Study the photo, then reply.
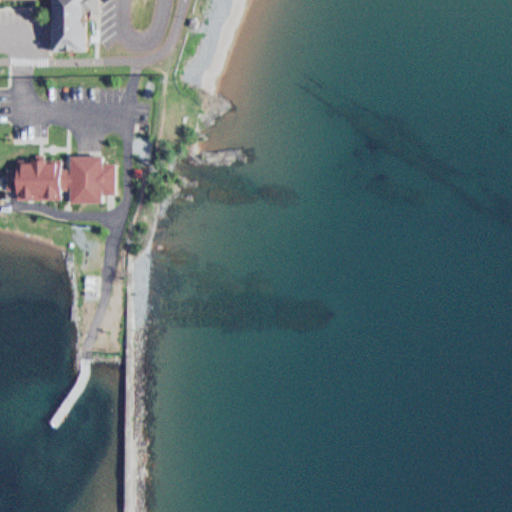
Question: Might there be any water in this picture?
Yes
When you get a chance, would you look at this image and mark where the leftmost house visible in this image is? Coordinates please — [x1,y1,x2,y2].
[11,156,62,206]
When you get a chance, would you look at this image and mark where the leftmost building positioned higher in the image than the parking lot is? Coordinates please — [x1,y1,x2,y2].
[50,0,89,52]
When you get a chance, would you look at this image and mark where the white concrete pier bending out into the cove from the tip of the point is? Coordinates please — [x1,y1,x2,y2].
[52,357,92,428]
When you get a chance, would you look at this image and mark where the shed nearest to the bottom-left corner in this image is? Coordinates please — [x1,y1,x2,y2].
[84,276,101,300]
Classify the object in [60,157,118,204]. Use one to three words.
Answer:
house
